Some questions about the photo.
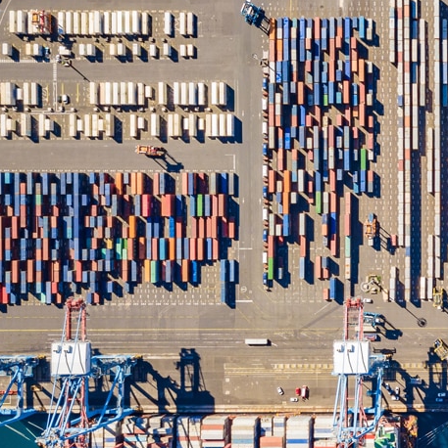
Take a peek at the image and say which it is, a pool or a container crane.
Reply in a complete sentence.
This aerial view contains a container crane.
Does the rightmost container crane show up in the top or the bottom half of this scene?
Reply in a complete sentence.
The rightmost container crane sits in the bottom half of the picture.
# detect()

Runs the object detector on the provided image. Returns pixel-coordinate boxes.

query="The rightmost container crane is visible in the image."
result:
[331,298,389,448]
